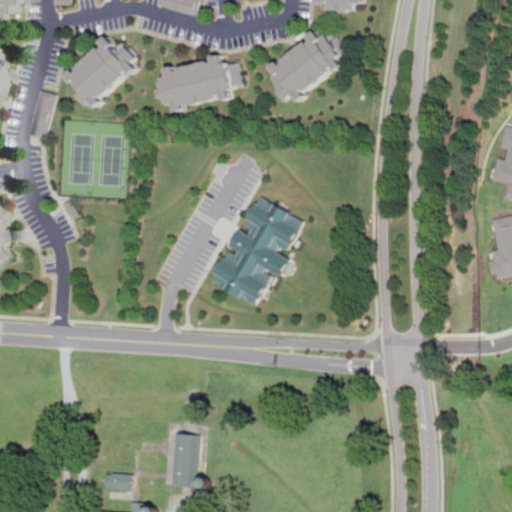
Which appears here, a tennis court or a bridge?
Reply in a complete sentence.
I can see a tennis court in this picture.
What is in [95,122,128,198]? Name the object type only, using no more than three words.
tennis court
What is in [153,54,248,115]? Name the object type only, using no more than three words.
building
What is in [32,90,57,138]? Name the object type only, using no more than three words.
building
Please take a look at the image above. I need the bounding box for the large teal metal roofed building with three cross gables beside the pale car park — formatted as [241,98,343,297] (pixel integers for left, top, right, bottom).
[211,194,306,306]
